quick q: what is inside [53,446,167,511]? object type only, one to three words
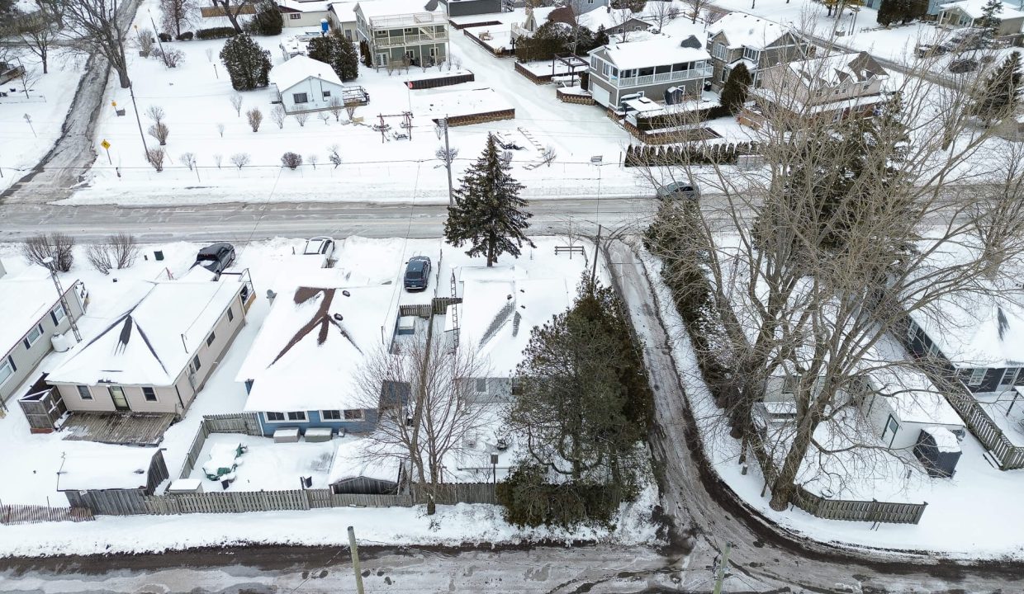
shed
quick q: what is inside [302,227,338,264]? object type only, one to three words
car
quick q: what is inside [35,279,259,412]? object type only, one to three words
house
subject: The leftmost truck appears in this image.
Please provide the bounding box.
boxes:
[189,237,239,273]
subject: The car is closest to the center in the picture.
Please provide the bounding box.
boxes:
[403,254,434,287]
